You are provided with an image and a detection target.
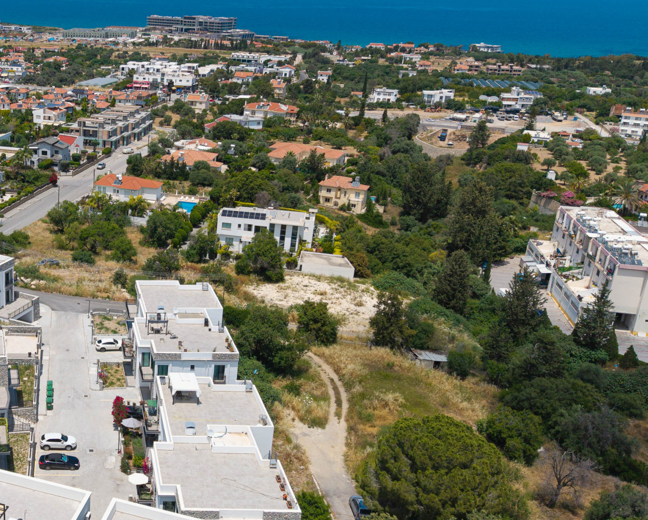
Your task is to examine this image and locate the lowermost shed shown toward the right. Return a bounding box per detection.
[410,348,448,373]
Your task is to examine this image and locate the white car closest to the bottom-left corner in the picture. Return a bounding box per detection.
[40,432,77,450]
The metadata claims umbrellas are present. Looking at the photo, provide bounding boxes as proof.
[120,418,143,435]
[126,474,147,494]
